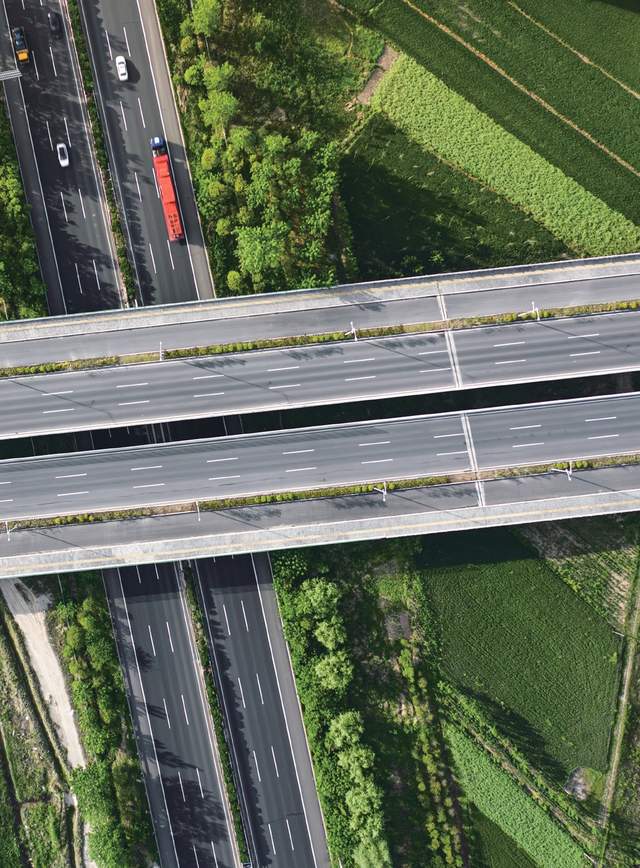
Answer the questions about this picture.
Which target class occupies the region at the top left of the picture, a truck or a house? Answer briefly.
truck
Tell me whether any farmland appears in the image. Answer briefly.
Yes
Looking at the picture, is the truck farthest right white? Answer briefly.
No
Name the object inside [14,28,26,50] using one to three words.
vehicle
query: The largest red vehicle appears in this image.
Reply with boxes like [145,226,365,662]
[151,139,186,243]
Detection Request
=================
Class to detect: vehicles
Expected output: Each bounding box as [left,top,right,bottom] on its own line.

[151,139,186,243]
[115,57,127,80]
[12,26,31,65]
[58,142,70,167]
[14,28,26,50]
